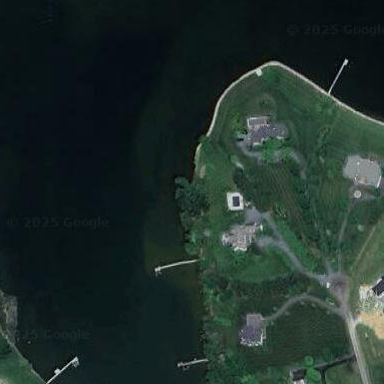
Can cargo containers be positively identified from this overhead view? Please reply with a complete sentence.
No, the photo shows no cargo container.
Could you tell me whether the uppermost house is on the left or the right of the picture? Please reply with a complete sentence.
The uppermost house is on the right side of the image.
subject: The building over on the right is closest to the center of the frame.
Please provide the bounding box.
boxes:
[222,222,258,252]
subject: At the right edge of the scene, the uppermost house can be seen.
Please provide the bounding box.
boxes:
[340,155,384,187]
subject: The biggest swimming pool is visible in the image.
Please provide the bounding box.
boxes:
[227,192,243,210]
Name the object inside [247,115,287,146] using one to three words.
house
